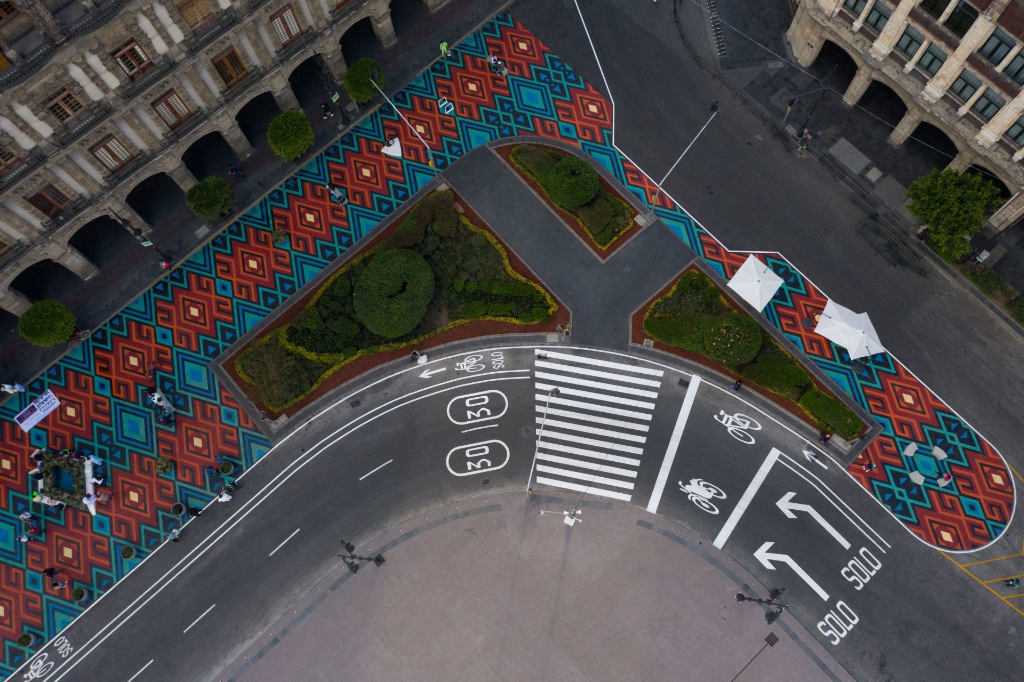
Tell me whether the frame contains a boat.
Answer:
No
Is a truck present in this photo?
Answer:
No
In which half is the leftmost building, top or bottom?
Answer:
top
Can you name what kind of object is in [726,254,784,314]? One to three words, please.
umbrella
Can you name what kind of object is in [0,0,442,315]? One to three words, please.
building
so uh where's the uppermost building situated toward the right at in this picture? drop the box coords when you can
[785,0,1024,229]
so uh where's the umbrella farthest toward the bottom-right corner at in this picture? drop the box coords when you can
[846,312,884,375]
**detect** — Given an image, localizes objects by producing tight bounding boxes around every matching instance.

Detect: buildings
[0,0,442,315]
[785,0,1024,229]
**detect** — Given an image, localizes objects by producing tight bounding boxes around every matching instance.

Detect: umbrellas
[726,254,784,314]
[800,299,857,349]
[846,312,884,375]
